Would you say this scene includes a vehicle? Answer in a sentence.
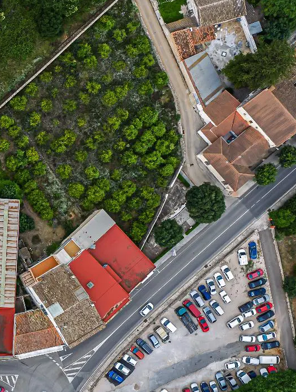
Yes, a vehicle appears in the view.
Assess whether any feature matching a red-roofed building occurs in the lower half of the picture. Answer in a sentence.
Yes, a red-roofed building can be seen in the lower half of the picture.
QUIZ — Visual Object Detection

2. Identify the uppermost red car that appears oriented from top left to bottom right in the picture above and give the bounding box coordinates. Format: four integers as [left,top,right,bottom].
[185,300,199,315]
